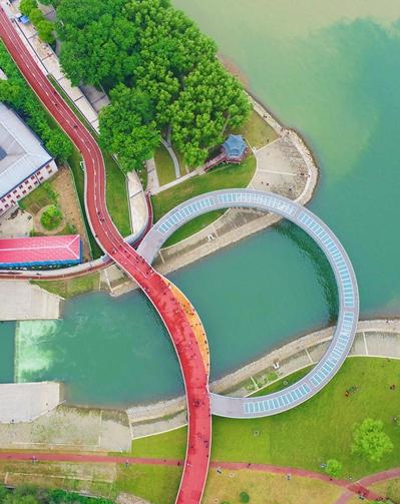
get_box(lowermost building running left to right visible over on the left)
[0,233,84,270]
